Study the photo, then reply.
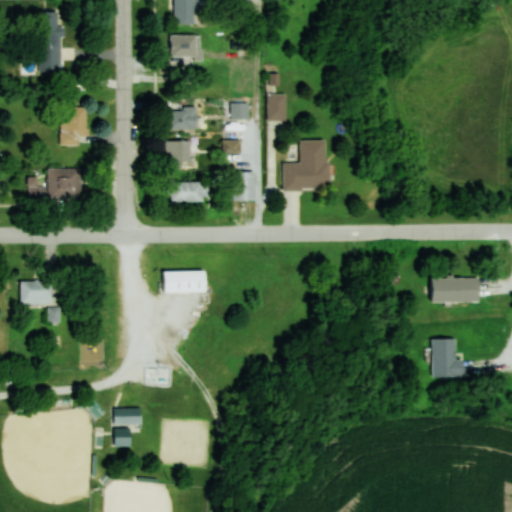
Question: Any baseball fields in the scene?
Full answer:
Yes, the picture does show a baseball field.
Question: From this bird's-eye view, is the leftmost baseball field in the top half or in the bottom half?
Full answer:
It is in the bottom half that the leftmost baseball field appears.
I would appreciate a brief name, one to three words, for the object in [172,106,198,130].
house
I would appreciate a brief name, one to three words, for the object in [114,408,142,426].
building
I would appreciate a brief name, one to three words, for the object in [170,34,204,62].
house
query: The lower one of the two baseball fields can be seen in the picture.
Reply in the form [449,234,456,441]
[104,480,172,512]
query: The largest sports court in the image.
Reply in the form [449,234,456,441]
[160,420,209,467]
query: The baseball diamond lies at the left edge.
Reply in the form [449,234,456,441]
[2,408,92,504]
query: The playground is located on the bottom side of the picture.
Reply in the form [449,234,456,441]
[79,340,105,369]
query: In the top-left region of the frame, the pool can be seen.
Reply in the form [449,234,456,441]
[20,60,37,76]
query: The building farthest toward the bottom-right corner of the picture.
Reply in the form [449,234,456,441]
[432,339,467,378]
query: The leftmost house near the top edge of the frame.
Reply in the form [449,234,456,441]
[38,11,64,72]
